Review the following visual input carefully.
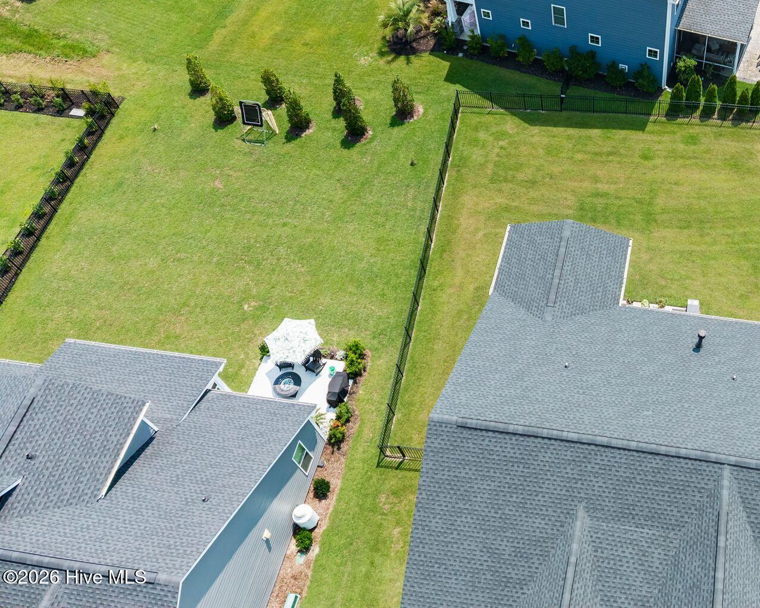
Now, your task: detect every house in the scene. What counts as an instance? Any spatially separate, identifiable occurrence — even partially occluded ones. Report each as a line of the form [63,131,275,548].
[397,221,760,608]
[438,0,758,90]
[0,339,326,608]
